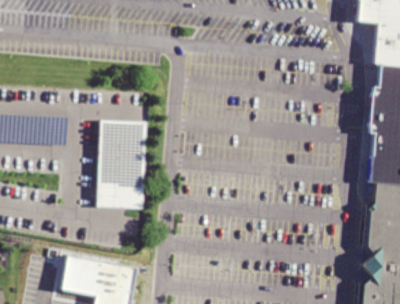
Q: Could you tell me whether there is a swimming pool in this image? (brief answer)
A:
No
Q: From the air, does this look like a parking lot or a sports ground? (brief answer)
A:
parking lot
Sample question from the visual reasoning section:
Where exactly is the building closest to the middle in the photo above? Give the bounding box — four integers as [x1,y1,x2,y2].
[98,122,150,210]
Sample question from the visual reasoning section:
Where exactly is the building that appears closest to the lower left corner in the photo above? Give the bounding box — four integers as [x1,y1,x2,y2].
[62,256,137,304]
